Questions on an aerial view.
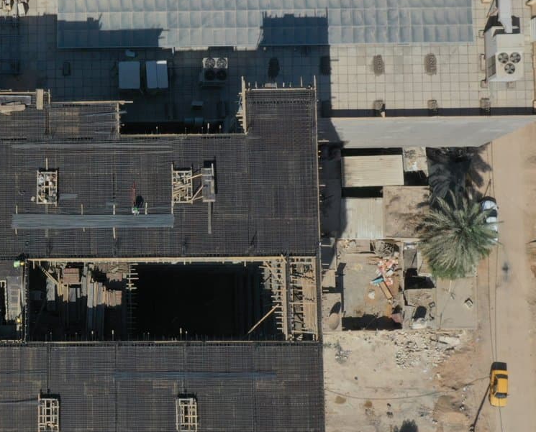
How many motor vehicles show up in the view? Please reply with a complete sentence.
I count 2 motor vehicles.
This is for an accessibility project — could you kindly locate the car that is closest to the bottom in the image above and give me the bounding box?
[488,364,511,407]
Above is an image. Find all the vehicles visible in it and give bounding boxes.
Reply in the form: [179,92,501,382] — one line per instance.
[488,364,511,407]
[479,197,501,237]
